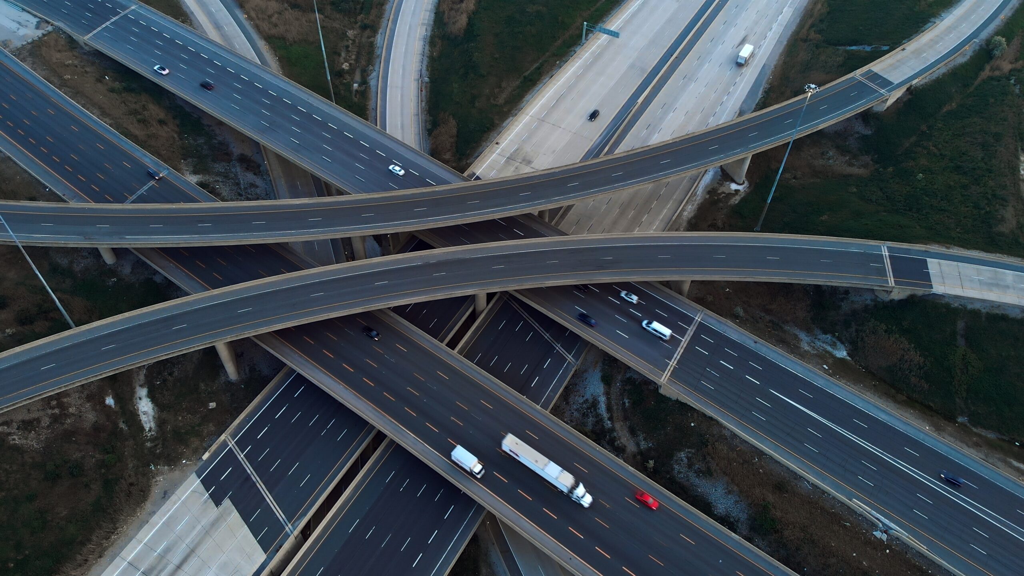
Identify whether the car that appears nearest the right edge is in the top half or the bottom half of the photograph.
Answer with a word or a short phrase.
bottom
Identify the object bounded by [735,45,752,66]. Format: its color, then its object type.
white vehicle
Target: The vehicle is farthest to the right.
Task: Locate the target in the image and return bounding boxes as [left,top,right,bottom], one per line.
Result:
[938,469,967,489]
